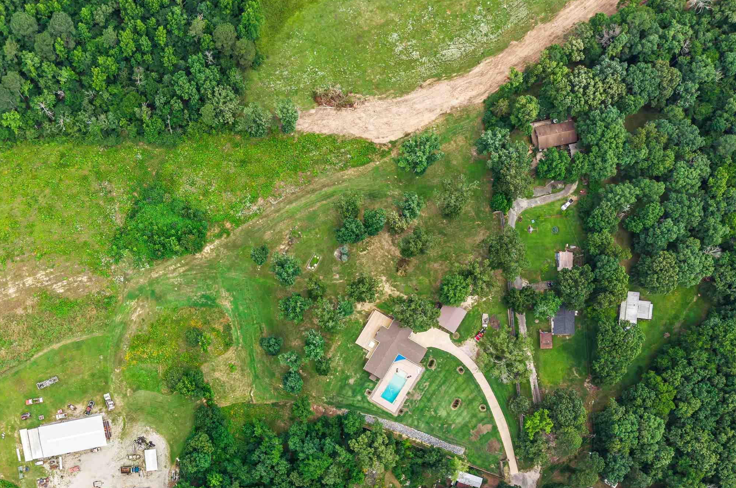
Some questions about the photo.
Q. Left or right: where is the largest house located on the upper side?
right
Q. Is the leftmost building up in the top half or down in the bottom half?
bottom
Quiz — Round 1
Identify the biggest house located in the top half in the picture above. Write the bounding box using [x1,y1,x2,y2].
[528,120,578,150]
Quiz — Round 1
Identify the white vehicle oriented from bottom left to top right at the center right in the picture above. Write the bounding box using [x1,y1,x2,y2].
[560,197,575,211]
